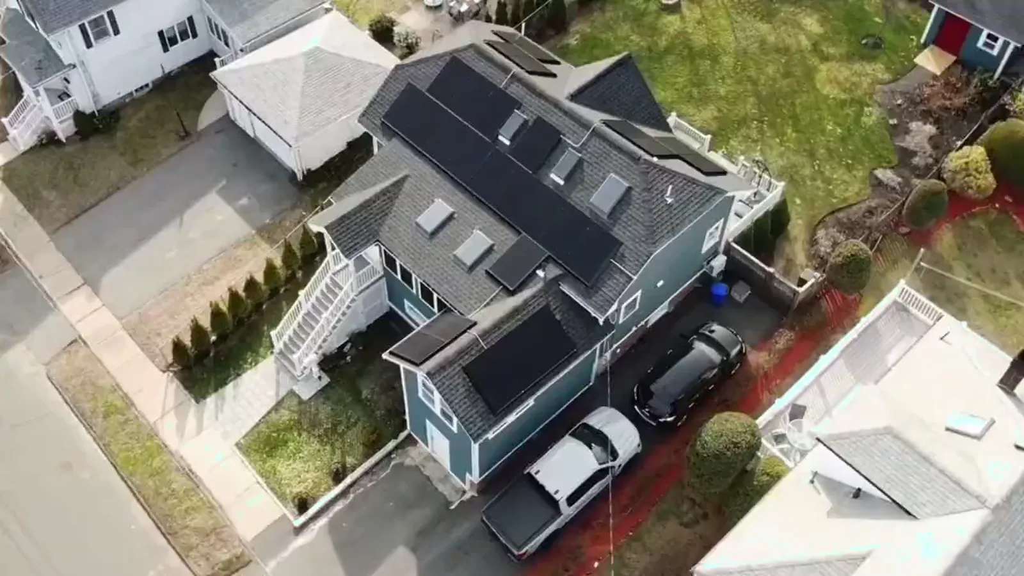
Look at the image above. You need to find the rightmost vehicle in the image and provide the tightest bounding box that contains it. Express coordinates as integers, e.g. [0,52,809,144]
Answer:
[627,325,749,437]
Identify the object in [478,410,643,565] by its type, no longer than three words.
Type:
truck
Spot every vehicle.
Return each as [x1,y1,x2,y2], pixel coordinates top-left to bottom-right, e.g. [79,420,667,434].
[627,325,749,437]
[478,410,643,565]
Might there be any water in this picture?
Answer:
No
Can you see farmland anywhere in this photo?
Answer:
No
